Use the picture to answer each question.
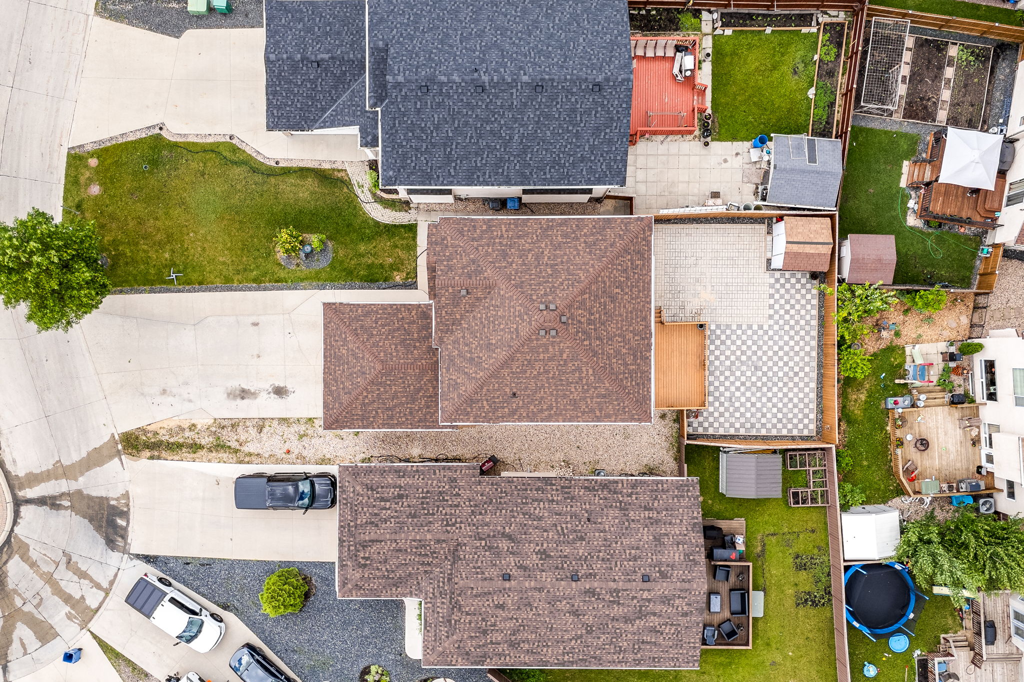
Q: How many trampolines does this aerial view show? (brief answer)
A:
1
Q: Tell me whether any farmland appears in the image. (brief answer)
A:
No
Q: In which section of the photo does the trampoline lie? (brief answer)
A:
bottom right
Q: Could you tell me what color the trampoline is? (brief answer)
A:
black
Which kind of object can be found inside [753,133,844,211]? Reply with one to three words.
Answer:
shed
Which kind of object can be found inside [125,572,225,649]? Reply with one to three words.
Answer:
truck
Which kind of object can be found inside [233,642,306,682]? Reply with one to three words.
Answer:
car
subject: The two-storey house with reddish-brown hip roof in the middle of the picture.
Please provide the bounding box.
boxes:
[322,215,655,431]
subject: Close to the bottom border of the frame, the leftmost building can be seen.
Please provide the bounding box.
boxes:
[337,463,706,669]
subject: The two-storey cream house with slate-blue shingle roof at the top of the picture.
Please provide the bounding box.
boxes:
[257,0,634,207]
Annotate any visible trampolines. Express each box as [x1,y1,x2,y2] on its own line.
[843,561,929,641]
